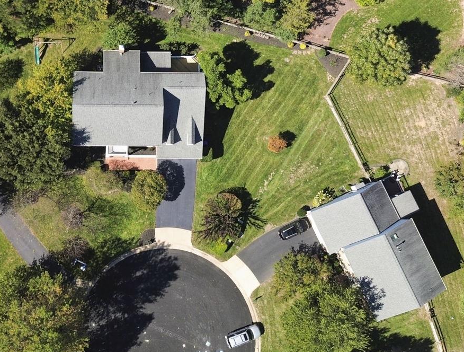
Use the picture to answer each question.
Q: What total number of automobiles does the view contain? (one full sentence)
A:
The number of automobiles here is 2.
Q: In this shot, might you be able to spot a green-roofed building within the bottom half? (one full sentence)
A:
No, no green-roofed building can be made out within the bottom half.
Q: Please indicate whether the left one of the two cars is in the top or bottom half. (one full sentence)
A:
The bottom half of the photo is where the left one of the two cars is.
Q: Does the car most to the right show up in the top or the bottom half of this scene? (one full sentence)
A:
The bottom half of the photo is where the car most to the right is.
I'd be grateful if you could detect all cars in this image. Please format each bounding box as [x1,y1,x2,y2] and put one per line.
[276,218,311,241]
[226,325,263,348]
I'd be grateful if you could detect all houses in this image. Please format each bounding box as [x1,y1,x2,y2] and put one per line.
[302,175,447,321]
[72,46,207,160]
